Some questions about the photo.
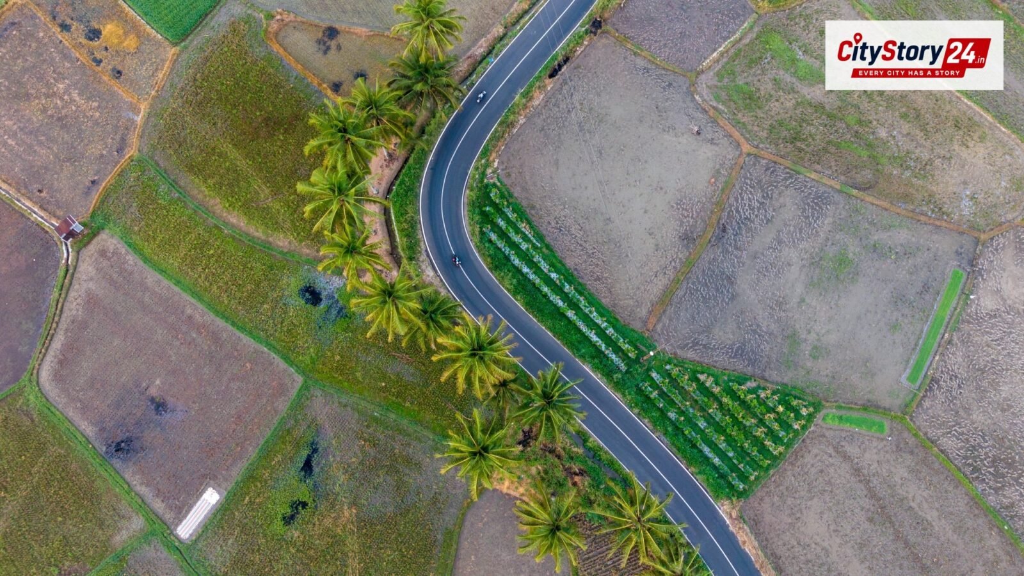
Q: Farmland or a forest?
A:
farmland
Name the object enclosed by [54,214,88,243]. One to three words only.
shed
